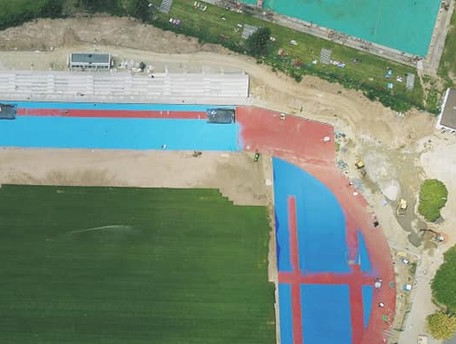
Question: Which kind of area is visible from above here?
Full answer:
This image shows a sports ground.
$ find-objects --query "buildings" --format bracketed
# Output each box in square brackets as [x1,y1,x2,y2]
[68,52,112,73]
[435,87,456,137]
